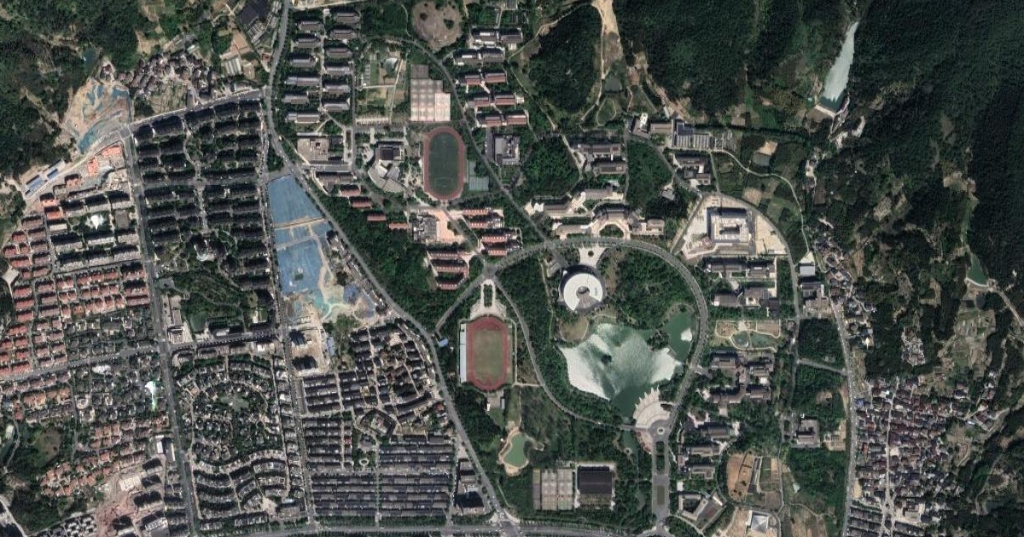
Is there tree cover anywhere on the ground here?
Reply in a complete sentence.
Yes, tree cover shows up in the scene.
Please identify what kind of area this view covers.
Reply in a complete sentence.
This image shows a residential area.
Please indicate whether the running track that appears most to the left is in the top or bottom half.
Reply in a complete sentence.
It is in the top half that the running track that appears most to the left appears.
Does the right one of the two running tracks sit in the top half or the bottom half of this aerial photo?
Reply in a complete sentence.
The right one of the two running tracks is in the bottom half of the image.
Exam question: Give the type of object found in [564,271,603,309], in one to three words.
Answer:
building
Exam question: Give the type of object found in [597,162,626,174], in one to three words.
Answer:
building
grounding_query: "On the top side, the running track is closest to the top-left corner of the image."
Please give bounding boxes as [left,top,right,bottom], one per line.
[424,126,464,201]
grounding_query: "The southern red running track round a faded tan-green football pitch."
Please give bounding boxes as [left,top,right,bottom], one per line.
[468,316,509,391]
